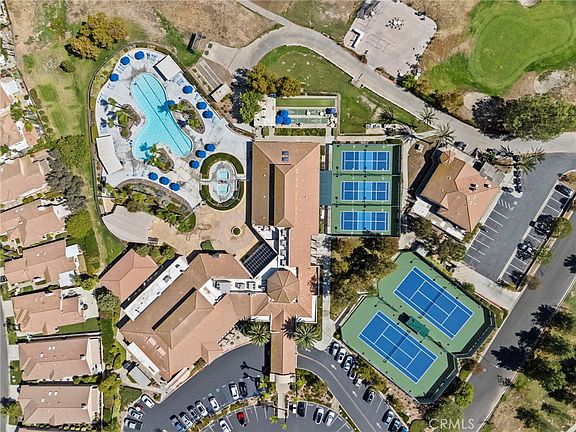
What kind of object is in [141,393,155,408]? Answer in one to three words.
car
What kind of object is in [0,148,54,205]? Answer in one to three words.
house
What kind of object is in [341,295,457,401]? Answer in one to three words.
tennis court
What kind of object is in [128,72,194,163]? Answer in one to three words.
swimming pool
